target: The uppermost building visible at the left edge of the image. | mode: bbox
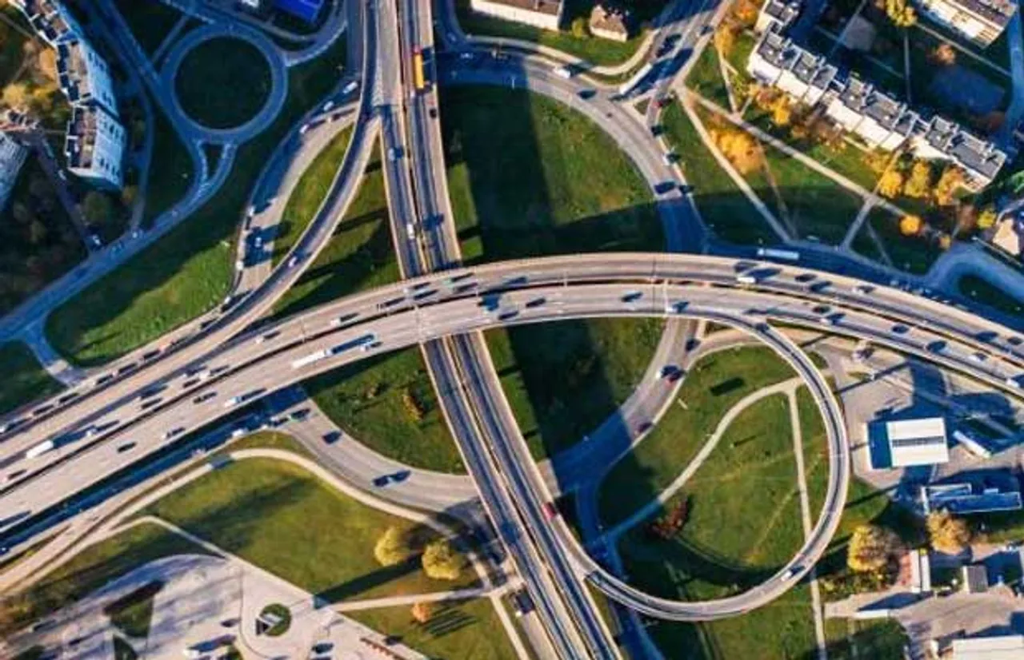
[7,0,105,56]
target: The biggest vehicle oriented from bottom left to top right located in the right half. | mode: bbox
[620,62,653,92]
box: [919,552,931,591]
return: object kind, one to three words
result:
shed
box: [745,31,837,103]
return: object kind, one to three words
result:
building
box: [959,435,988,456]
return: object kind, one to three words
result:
bus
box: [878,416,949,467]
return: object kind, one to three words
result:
building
